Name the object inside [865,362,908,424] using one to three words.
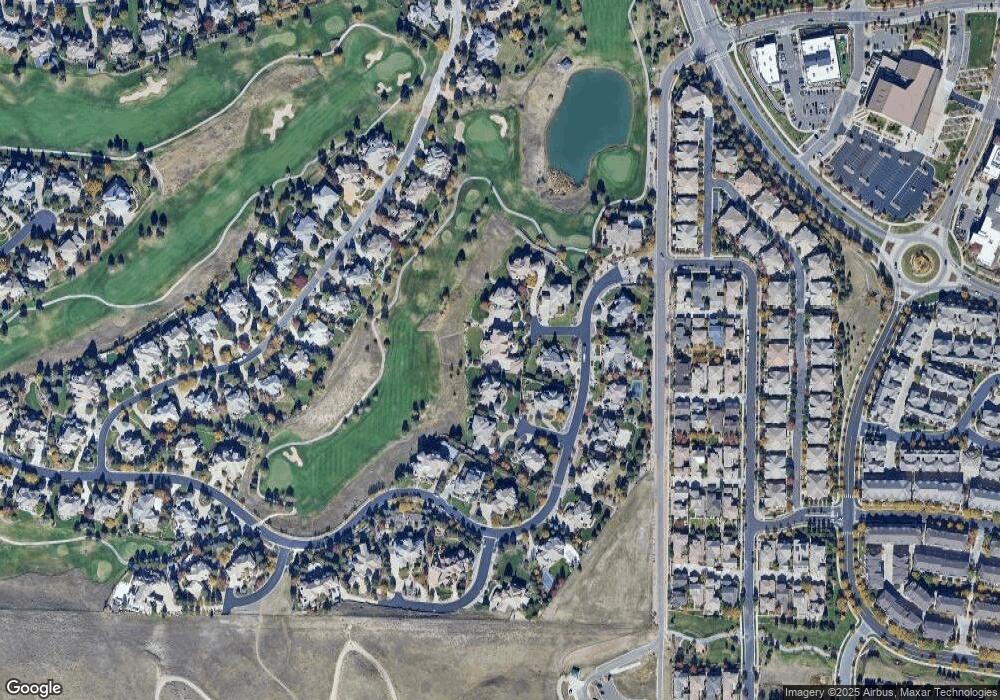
house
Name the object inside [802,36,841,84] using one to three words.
building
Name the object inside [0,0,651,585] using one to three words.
golf course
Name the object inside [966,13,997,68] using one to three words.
sports field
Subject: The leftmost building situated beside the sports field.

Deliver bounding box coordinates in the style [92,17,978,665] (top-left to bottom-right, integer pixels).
[868,56,943,135]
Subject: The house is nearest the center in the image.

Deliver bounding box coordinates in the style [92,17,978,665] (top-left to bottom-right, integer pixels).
[479,331,522,374]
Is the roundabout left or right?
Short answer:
right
